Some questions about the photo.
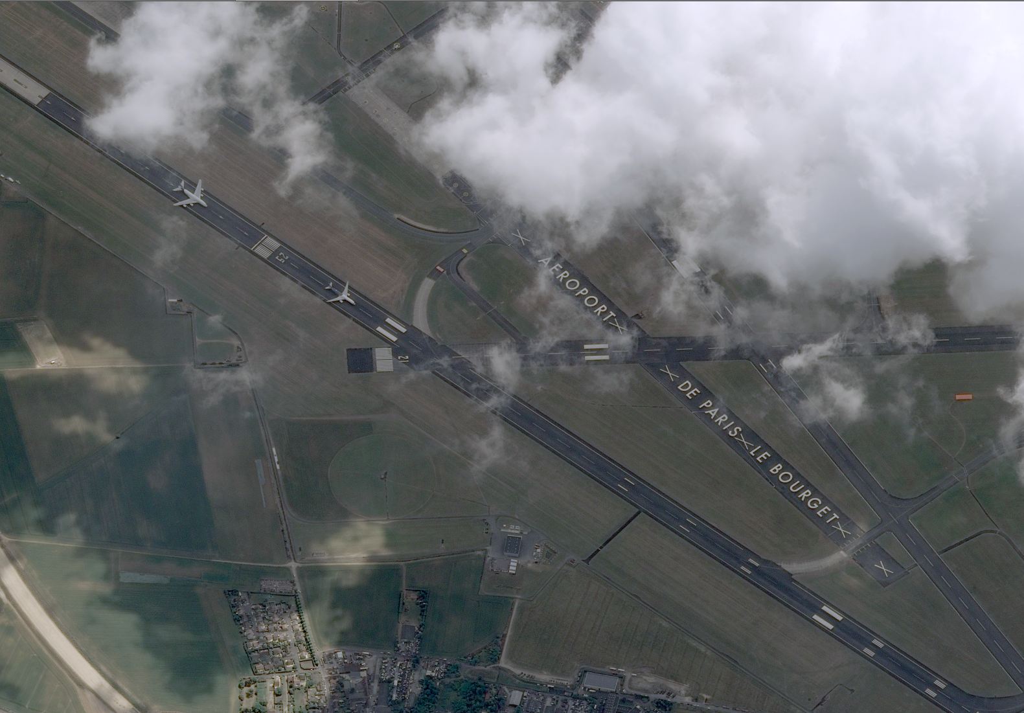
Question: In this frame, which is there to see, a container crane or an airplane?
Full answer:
The image shows an airplane.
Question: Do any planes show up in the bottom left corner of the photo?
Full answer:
No, the scene shows no plane in the bottom left corner of the photo.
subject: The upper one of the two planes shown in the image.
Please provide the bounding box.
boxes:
[172,177,208,206]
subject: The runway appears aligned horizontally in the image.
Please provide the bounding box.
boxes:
[347,324,1024,374]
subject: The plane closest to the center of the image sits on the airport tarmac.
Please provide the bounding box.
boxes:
[326,280,356,304]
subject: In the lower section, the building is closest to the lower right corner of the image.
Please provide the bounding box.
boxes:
[585,672,619,693]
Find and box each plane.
[326,280,356,304]
[172,177,208,206]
